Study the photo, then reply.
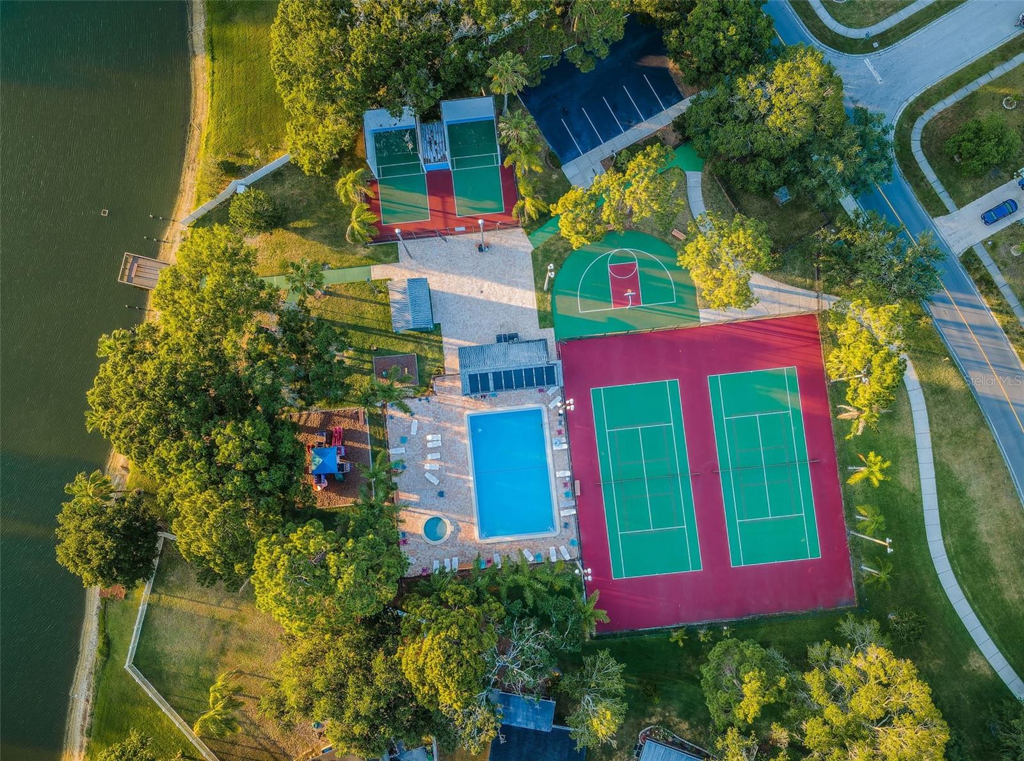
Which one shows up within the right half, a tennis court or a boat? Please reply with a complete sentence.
Visible within the right half is a tennis court.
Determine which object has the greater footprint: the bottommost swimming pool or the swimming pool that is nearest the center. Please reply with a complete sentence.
Of the two, the swimming pool that is nearest the center is larger and the bottommost swimming pool is the smaller one.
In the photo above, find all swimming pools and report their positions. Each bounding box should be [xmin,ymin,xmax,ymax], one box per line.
[467,405,559,541]
[421,514,455,545]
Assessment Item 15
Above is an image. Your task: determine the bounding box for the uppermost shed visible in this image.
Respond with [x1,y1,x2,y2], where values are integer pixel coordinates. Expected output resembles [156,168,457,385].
[419,117,451,171]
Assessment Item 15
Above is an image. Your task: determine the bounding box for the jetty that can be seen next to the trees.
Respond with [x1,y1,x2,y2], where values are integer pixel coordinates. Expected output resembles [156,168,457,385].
[117,254,171,294]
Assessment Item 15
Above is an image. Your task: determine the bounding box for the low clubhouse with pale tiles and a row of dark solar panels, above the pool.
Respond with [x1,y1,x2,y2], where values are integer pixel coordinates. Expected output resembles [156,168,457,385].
[458,339,564,396]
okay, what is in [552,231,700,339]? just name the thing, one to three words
basketball court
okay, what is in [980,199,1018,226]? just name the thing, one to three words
car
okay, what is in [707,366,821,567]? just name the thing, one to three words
tennis court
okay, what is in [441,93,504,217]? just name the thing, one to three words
sports court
